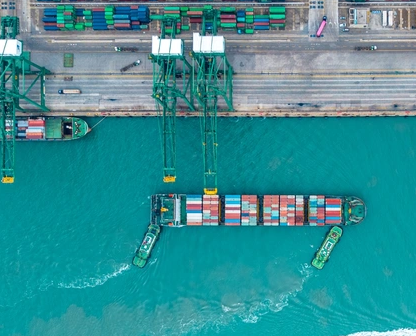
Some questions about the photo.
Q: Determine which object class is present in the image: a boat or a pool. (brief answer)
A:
boat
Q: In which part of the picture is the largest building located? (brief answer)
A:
top right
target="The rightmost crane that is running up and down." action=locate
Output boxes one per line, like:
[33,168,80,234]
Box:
[191,7,238,195]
